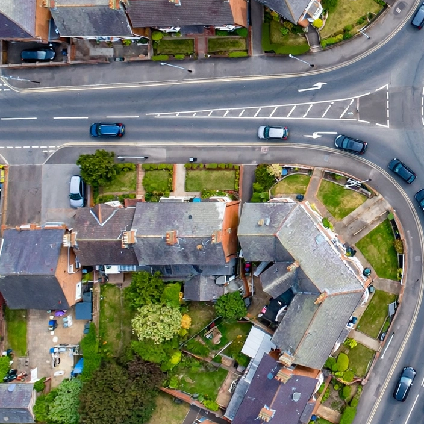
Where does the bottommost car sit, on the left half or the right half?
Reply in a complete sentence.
It is on the right.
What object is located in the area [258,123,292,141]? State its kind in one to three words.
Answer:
car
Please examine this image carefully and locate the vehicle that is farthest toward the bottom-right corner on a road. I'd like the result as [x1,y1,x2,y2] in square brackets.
[392,364,416,405]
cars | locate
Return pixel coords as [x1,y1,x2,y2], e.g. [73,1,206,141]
[92,121,127,139]
[387,155,418,187]
[392,364,416,405]
[67,174,86,208]
[415,188,424,214]
[408,0,424,34]
[17,45,58,63]
[334,133,369,155]
[258,123,292,141]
